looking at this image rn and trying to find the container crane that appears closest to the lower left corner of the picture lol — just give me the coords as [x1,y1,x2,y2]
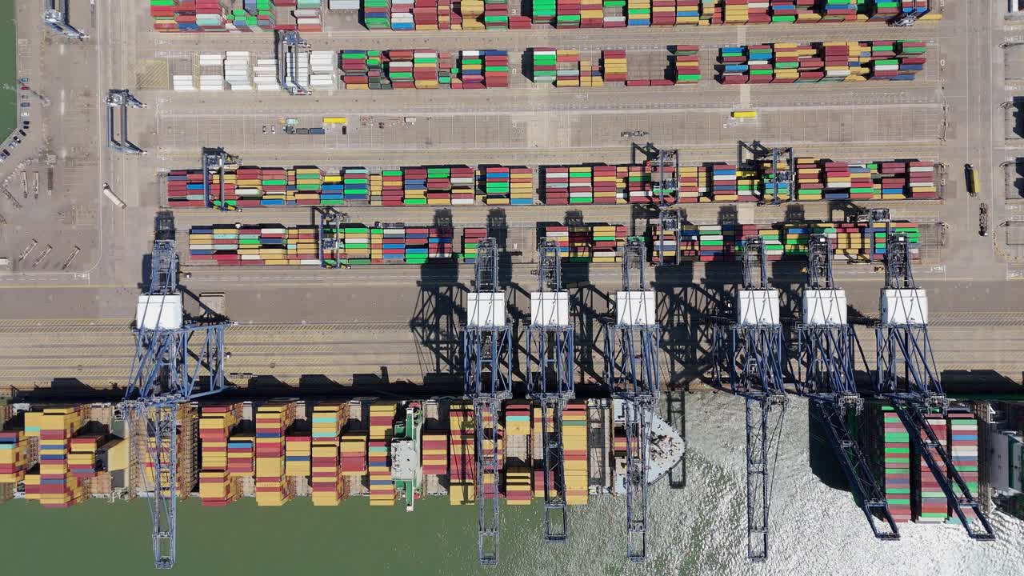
[119,241,245,571]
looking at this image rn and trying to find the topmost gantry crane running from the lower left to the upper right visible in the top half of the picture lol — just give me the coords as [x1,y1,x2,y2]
[883,0,929,27]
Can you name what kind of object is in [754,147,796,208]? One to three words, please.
container crane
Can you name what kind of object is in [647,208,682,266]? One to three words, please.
container crane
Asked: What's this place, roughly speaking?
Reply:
port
